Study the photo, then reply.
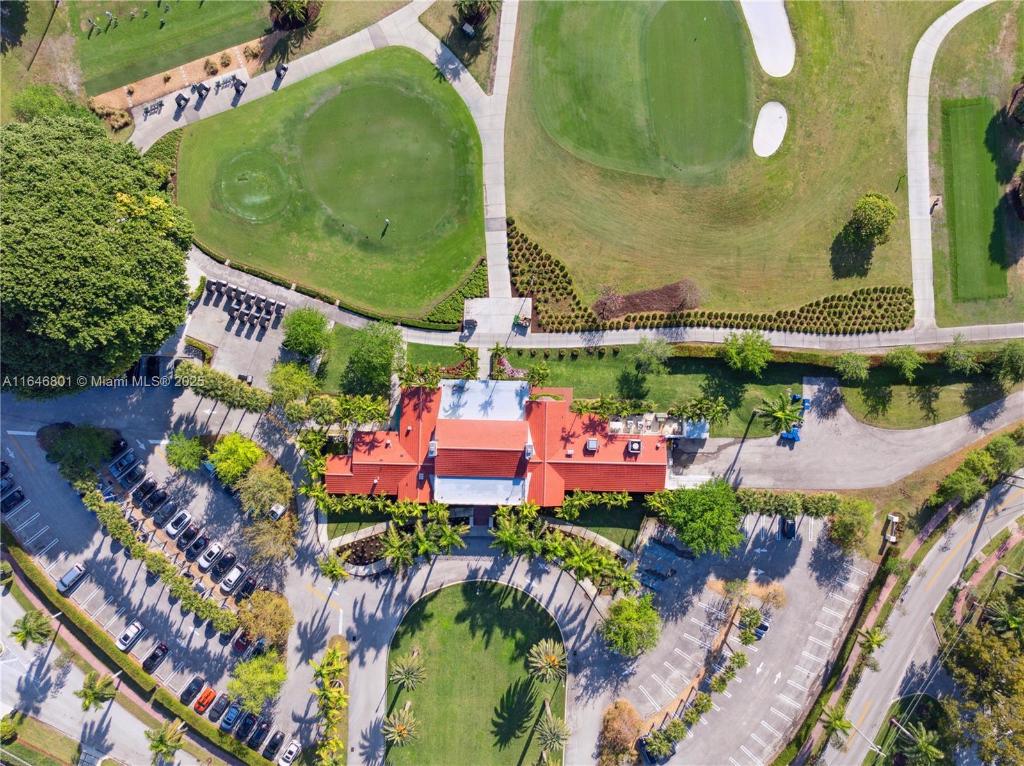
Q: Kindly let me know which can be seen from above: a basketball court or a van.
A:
van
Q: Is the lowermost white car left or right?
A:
left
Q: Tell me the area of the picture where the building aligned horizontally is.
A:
center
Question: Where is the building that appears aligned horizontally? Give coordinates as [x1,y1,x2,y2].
[325,380,708,507]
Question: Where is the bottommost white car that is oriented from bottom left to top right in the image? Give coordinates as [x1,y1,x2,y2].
[277,737,303,766]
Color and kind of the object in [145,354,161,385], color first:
black car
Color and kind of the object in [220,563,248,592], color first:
white car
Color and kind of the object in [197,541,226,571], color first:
white car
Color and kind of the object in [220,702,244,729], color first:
blue car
